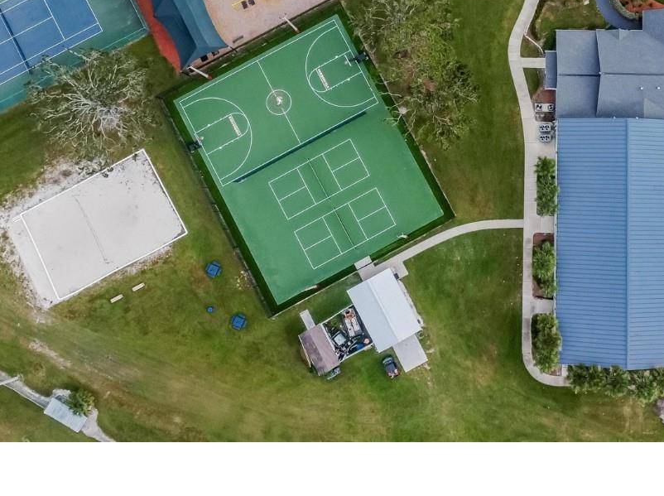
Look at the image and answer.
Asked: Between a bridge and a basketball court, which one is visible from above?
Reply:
basketball court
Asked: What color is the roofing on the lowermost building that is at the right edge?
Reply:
blue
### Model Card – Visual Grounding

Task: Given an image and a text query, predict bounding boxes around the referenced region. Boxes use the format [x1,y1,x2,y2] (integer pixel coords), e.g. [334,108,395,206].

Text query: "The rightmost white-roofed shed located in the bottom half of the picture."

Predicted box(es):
[347,268,421,352]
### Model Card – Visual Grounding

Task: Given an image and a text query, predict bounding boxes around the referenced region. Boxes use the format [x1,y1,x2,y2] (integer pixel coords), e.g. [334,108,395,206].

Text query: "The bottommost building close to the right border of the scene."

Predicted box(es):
[558,118,664,371]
